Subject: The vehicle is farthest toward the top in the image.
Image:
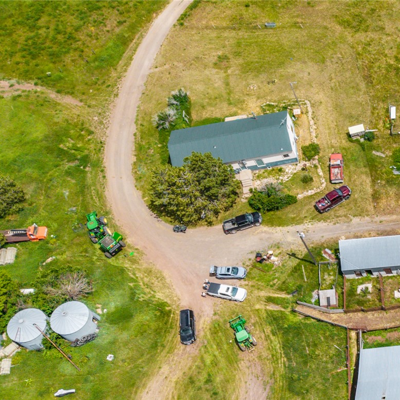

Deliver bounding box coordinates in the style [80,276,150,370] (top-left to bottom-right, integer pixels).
[327,154,344,184]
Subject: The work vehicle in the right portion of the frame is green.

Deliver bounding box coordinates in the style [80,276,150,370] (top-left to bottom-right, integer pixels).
[223,308,259,352]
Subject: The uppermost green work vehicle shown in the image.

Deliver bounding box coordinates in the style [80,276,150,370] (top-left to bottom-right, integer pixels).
[82,207,112,239]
